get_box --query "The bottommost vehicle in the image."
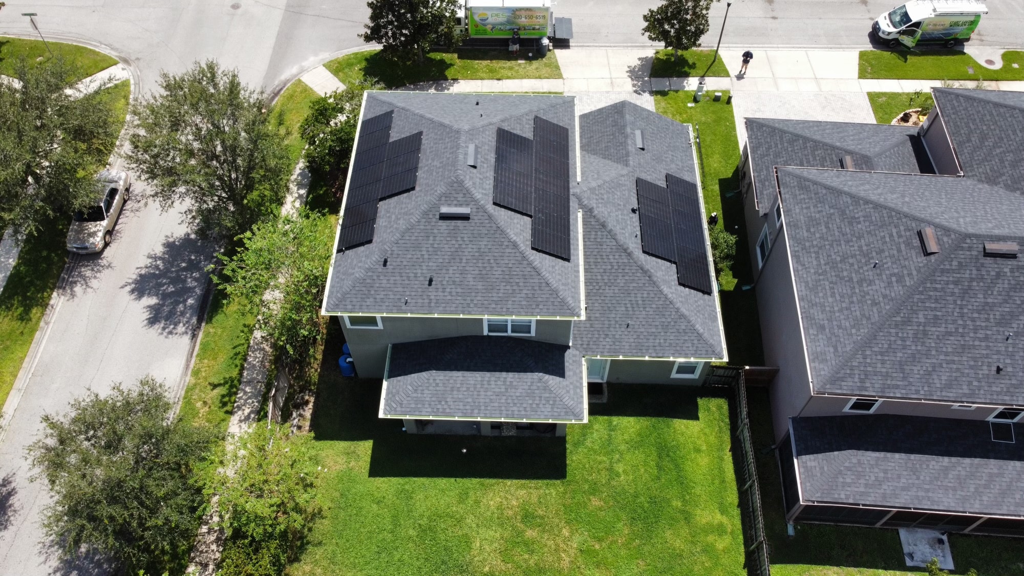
[66,179,129,259]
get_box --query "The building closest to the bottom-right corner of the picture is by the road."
[737,88,1024,537]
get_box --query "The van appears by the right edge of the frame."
[872,0,991,48]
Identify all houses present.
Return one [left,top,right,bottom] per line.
[737,88,1024,537]
[321,91,729,437]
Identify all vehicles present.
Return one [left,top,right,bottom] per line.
[66,179,129,259]
[445,0,573,47]
[872,0,991,48]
